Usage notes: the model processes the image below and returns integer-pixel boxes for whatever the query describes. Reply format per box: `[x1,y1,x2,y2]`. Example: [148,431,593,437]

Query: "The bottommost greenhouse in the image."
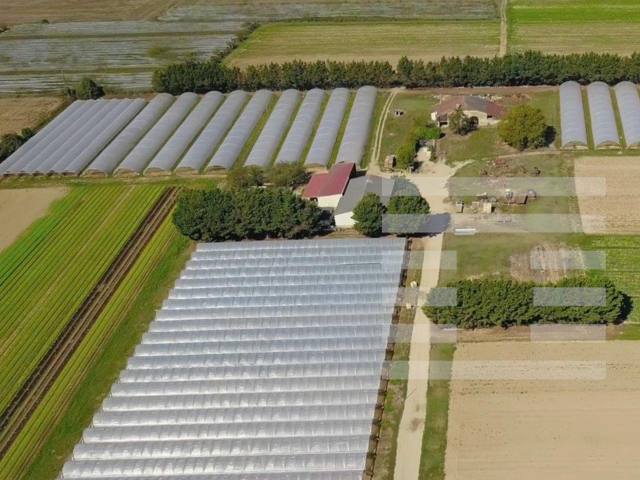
[51,238,405,480]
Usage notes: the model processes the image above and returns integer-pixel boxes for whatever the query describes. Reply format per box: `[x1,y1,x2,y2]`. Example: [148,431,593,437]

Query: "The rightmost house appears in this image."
[436,92,510,128]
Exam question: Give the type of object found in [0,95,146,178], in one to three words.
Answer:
greenhouse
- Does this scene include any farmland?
Yes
